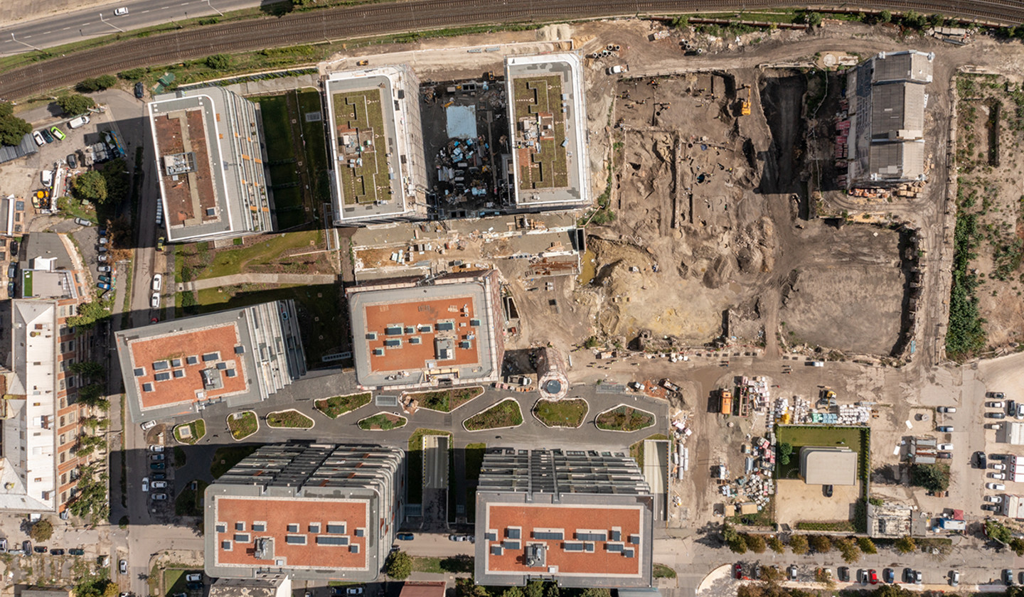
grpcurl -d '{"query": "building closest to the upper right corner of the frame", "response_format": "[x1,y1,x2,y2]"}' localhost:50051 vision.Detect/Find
[837,57,943,182]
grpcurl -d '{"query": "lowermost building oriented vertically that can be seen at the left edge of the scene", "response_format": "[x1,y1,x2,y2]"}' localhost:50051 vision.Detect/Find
[0,302,88,519]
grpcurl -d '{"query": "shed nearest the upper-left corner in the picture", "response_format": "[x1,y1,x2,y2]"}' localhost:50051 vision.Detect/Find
[0,135,44,165]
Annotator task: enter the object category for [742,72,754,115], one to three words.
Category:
vehicle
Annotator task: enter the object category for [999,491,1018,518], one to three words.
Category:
building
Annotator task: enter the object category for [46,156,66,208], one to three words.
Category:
vehicle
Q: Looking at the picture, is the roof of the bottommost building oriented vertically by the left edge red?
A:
No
